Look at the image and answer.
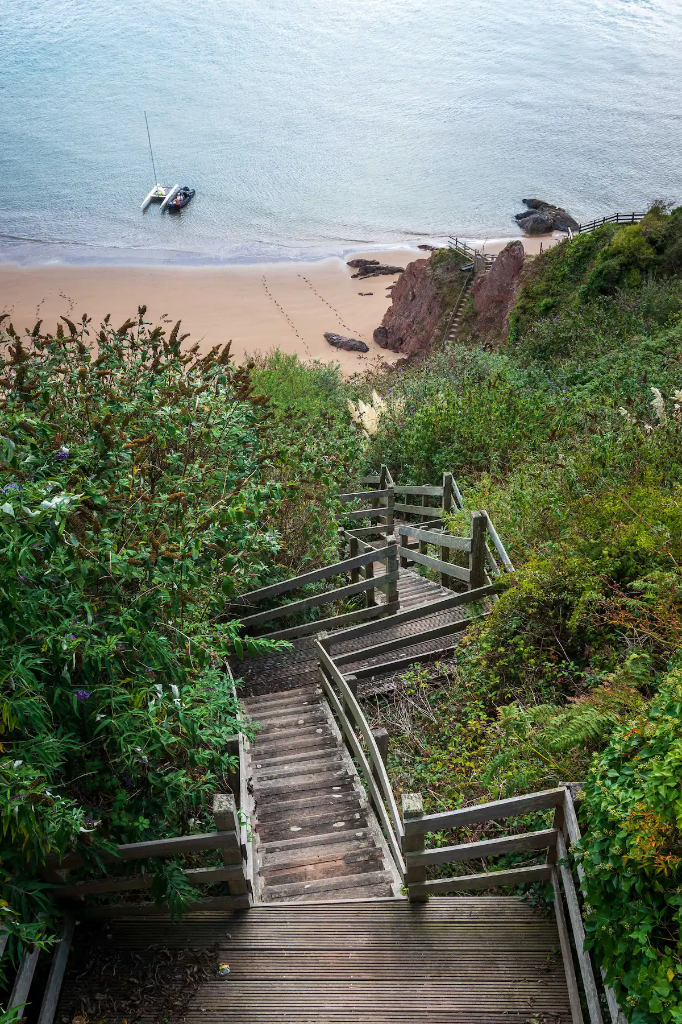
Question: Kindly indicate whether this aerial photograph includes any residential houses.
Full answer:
No, there isn't any residential house down there.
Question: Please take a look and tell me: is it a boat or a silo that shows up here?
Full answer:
Of the two, only a boat appears.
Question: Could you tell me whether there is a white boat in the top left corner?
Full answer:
Yes, in the top left corner there is a white boat.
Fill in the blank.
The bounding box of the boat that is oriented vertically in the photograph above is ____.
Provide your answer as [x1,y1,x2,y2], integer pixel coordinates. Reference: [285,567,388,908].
[140,106,179,211]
